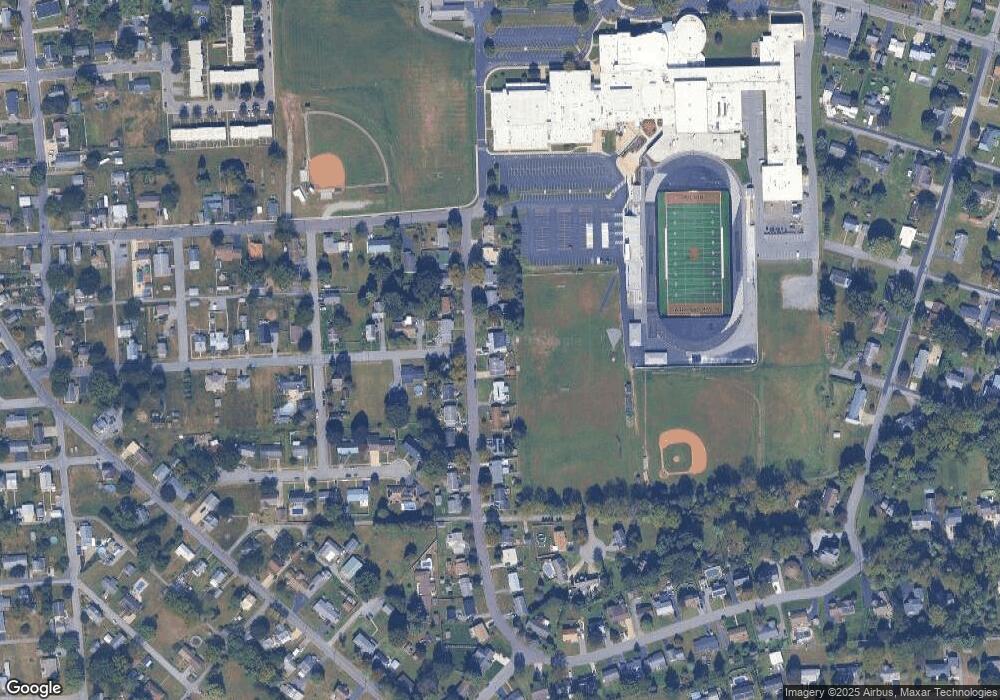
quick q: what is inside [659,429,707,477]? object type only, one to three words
baseball field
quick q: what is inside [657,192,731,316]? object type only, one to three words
sports field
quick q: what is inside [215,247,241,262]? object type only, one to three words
house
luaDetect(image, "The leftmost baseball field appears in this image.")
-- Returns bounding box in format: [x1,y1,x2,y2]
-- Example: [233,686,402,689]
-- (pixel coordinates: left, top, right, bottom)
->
[305,110,389,191]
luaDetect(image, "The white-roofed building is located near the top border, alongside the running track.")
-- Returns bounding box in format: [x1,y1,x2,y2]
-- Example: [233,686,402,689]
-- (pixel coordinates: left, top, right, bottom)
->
[491,14,805,200]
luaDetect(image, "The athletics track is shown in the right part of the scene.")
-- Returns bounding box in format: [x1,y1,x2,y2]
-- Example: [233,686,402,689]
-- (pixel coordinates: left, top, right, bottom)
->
[646,156,756,359]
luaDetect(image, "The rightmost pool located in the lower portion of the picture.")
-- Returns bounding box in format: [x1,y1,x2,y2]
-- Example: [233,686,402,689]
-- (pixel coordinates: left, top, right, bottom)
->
[796,627,814,641]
